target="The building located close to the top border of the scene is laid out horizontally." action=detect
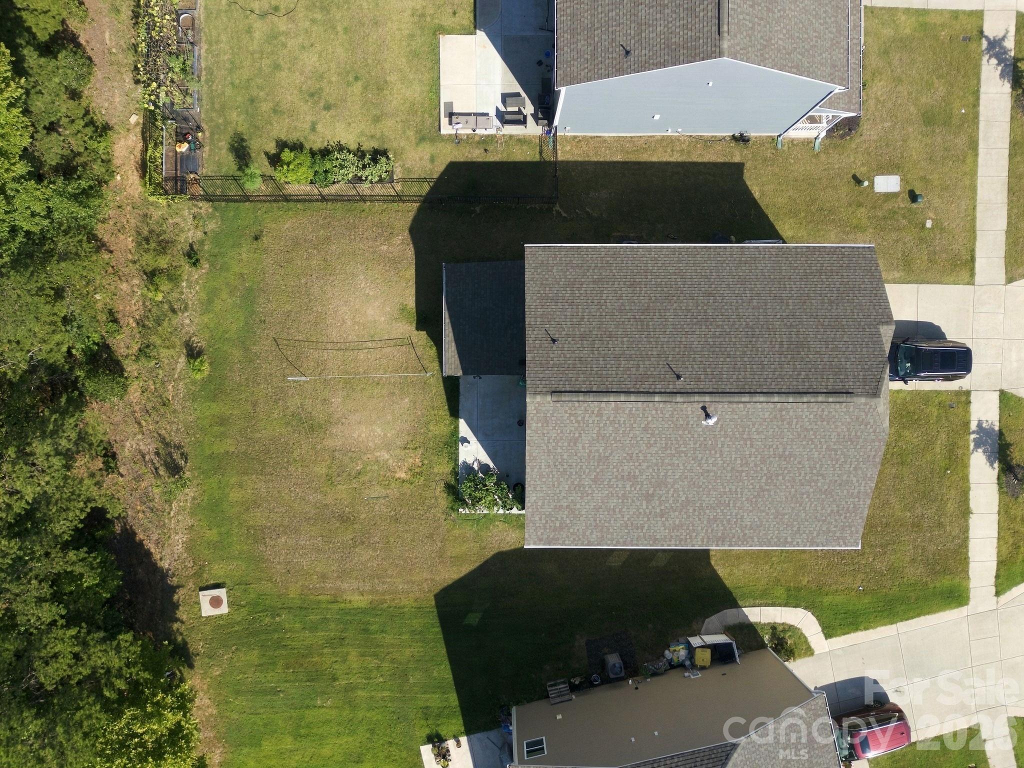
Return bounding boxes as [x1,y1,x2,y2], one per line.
[553,0,864,138]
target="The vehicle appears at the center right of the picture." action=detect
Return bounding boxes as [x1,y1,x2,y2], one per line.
[887,336,973,385]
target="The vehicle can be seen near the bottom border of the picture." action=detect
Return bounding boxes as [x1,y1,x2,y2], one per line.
[833,702,912,765]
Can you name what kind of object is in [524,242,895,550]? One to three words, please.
house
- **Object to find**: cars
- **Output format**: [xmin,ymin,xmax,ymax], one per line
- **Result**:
[833,702,912,765]
[887,336,973,385]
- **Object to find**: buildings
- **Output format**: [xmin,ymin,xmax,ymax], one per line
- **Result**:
[553,0,864,138]
[505,647,844,768]
[524,242,895,550]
